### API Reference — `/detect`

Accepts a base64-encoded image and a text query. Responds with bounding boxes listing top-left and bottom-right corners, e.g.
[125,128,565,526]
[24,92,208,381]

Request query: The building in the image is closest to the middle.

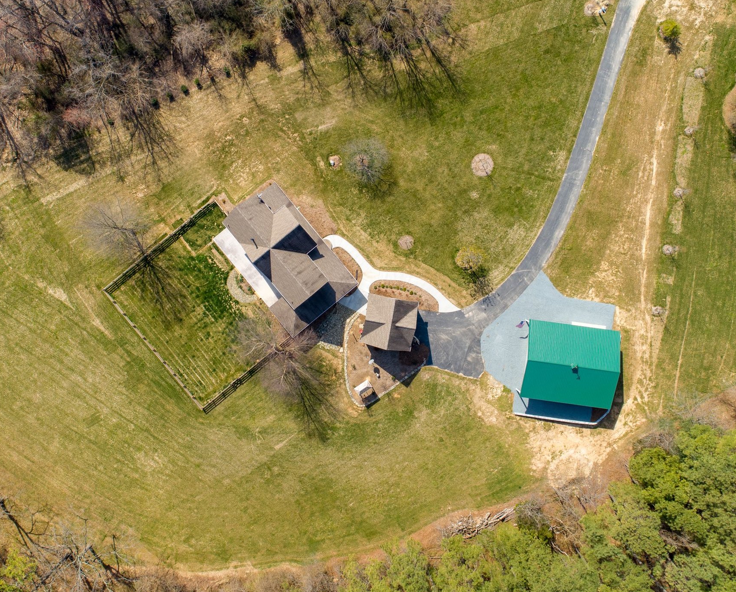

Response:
[360,292,422,352]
